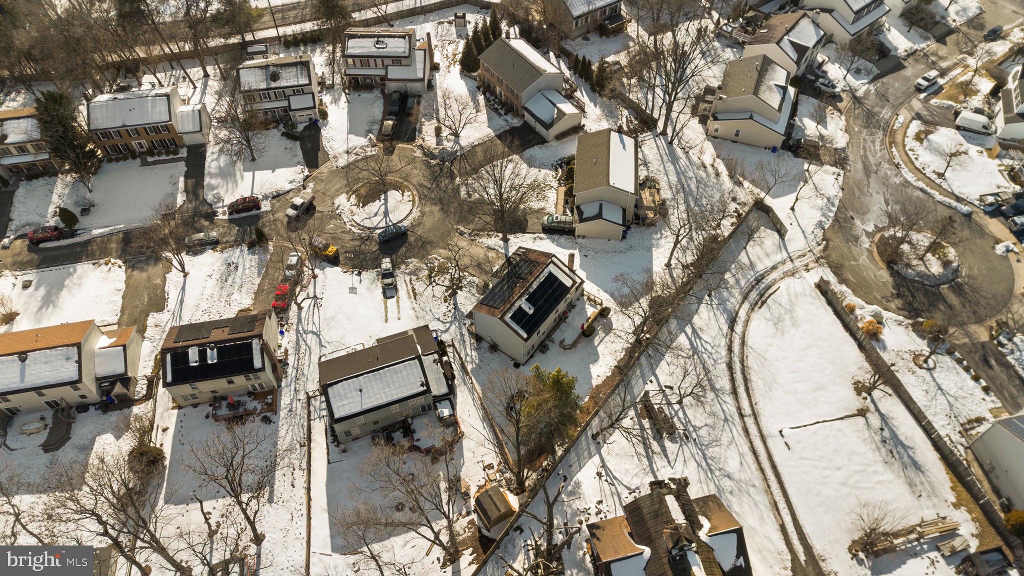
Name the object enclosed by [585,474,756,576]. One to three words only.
house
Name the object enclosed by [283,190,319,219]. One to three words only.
truck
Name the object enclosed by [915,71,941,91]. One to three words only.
car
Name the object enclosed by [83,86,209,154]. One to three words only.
house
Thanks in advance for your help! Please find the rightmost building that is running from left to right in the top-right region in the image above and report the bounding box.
[797,0,893,47]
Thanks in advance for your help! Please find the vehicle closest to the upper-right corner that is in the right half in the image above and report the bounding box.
[982,26,1004,41]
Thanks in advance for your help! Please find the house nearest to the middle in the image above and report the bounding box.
[469,245,585,362]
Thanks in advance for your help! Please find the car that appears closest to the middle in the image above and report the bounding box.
[541,216,575,234]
